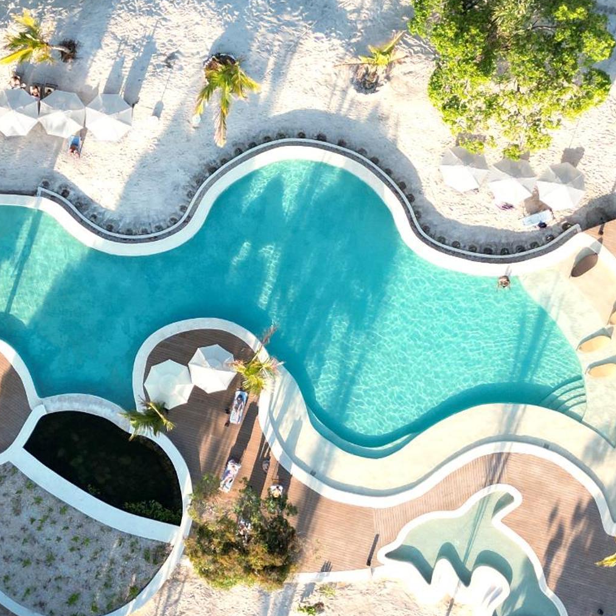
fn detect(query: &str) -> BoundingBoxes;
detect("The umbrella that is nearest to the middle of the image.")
[189,344,238,394]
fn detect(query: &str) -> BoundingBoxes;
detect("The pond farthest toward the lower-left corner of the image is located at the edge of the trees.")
[29,411,182,520]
